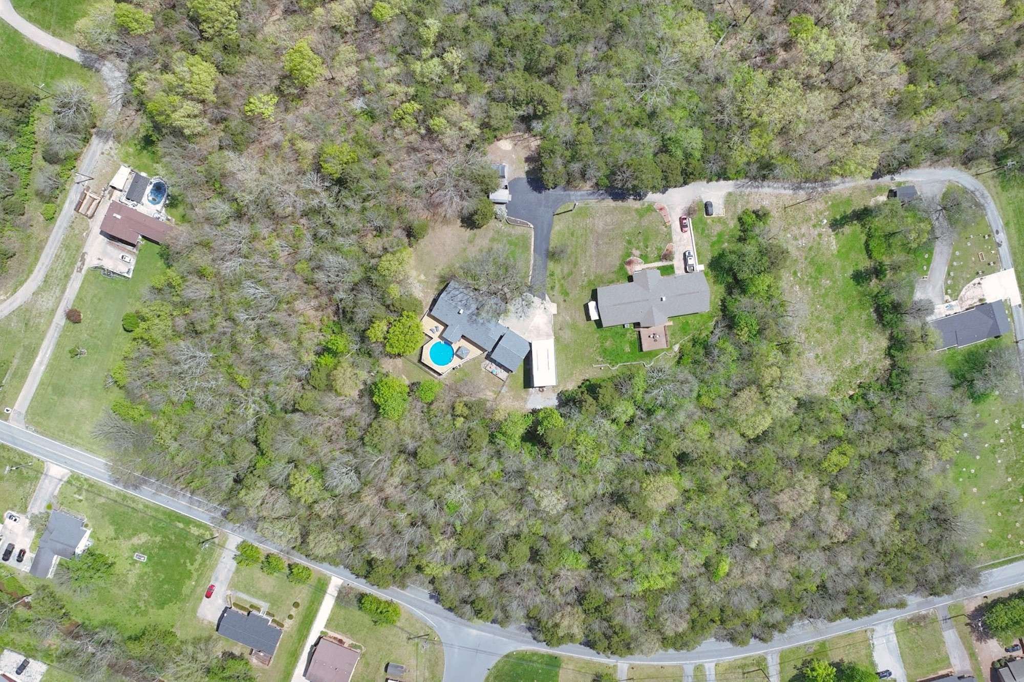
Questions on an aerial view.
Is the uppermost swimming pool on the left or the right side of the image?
left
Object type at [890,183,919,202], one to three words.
shed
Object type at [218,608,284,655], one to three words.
house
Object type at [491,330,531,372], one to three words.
building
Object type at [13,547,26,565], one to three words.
vehicle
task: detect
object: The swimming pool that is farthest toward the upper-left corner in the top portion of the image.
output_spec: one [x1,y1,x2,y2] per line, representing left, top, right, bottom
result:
[146,178,169,205]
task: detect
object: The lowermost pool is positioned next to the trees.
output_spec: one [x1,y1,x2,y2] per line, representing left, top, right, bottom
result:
[429,340,454,366]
